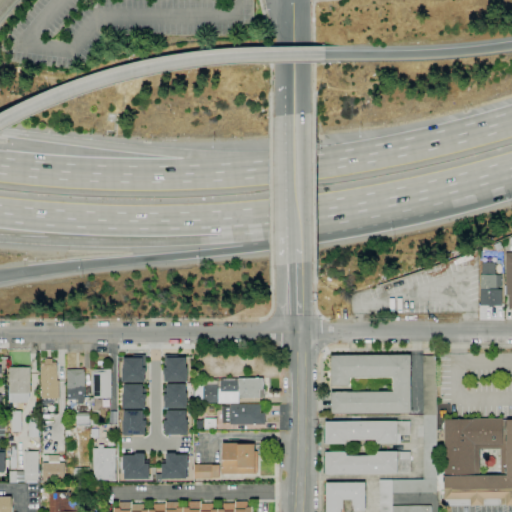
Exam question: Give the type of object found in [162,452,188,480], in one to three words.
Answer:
house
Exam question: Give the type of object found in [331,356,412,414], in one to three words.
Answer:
building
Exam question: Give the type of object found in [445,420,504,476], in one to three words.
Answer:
house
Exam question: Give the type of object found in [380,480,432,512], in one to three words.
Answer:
building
